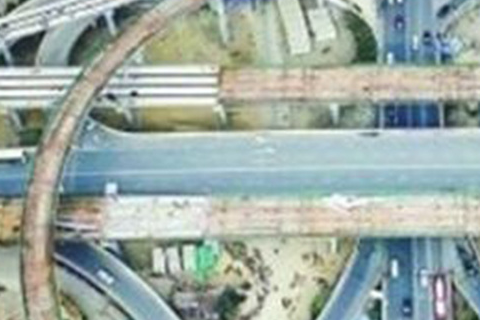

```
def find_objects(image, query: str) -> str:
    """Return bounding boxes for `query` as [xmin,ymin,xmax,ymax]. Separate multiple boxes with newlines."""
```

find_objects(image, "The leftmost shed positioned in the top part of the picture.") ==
[279,0,310,61]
